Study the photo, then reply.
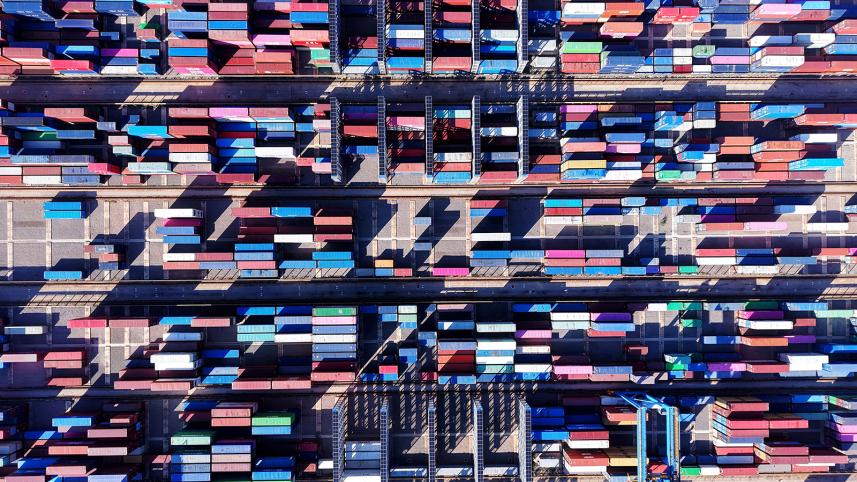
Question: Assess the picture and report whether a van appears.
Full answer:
No, no van is visible in the scene.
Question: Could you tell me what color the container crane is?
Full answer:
The container crane is blue.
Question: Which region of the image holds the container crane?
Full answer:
The container crane is in the bottom right part of the image.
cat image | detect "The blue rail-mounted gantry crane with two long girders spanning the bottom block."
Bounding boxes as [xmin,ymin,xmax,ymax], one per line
[613,390,676,482]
